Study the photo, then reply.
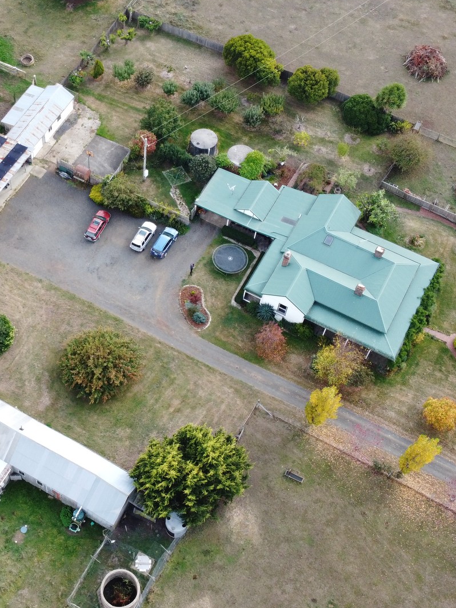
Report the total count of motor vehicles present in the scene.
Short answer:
3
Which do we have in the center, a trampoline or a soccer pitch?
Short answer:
trampoline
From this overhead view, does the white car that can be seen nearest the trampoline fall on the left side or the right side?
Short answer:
left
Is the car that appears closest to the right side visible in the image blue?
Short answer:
Yes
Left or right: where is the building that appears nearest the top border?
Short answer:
left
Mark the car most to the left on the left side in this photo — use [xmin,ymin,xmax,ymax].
[85,210,109,242]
